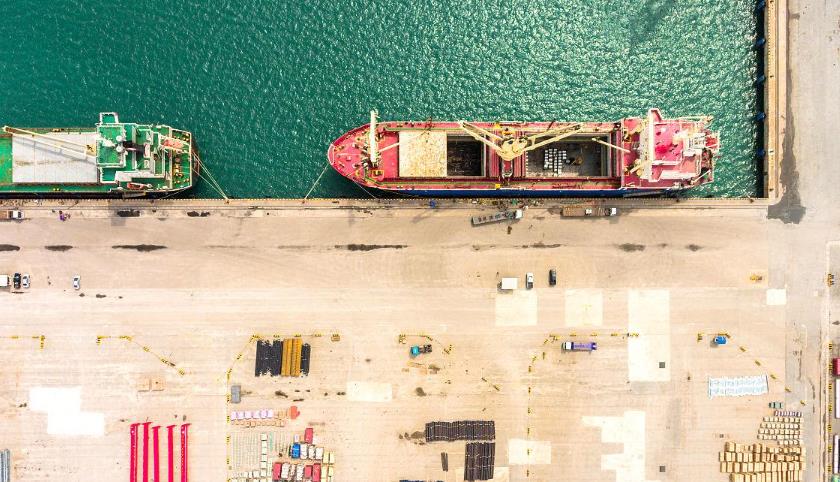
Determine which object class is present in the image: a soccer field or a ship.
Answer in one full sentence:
The one in the frame is a ship.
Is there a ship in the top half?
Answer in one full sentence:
Yes, in the top half there is a ship.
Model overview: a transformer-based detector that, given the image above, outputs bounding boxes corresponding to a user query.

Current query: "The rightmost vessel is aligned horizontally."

[328,107,721,194]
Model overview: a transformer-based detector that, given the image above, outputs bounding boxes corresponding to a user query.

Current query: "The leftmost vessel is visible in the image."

[0,112,199,196]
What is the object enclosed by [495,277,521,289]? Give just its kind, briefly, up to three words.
vehicle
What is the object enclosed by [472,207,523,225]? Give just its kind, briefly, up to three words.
vehicle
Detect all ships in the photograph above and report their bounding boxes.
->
[0,112,199,196]
[328,107,721,194]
